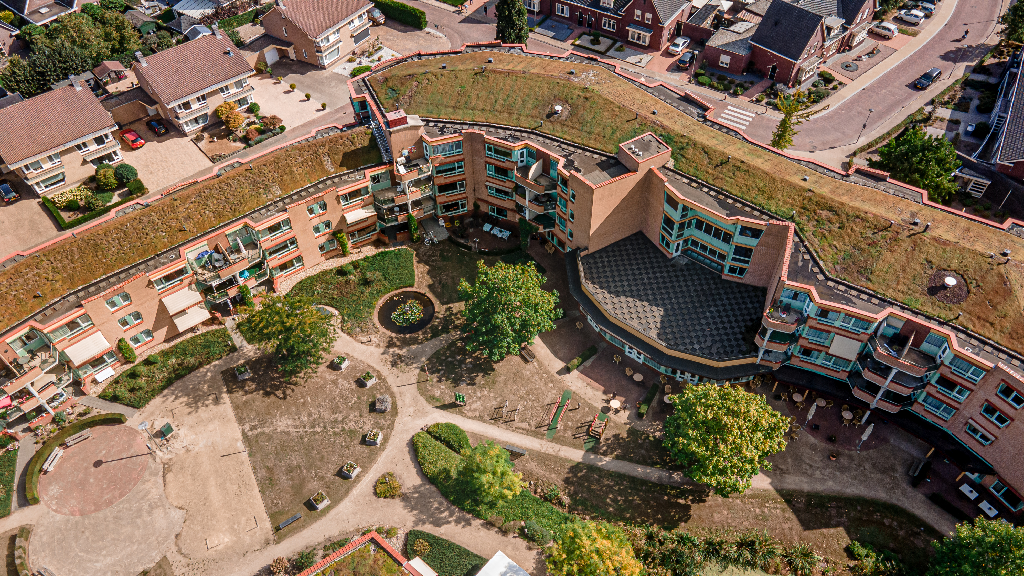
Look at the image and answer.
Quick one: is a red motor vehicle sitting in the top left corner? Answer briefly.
Yes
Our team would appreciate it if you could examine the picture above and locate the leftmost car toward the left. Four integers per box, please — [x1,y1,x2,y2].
[0,180,20,202]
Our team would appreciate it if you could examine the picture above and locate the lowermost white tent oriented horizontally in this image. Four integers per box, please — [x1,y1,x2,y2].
[473,550,529,576]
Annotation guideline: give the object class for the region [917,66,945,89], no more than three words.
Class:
car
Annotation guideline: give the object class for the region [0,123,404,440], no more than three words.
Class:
building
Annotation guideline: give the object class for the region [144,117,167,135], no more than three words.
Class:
car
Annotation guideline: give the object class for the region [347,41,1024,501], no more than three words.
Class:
building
